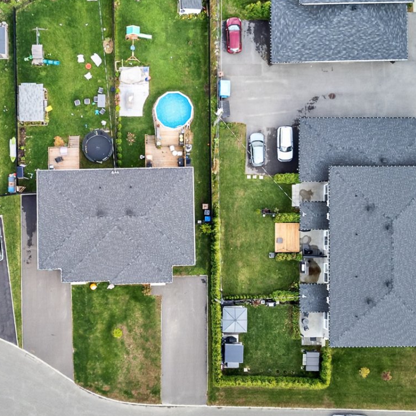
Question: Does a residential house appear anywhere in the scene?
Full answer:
Yes, you can see a residential house in this photo.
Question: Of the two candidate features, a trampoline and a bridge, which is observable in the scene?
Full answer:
Of the two, only a trampoline appears.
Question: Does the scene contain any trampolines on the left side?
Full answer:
Yes, a trampoline is visible on the left side.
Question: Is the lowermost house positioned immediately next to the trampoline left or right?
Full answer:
The lowermost house positioned immediately next to the trampoline sits on the left side.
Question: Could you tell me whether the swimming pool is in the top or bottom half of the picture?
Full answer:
The swimming pool is in the top half of the image.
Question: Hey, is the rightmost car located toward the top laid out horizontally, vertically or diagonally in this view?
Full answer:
The rightmost car located toward the top runs vertically in the image.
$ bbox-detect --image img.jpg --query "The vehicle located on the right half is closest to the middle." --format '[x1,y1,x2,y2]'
[249,131,267,167]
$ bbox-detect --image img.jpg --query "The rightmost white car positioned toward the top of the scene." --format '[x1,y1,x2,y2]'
[275,124,296,163]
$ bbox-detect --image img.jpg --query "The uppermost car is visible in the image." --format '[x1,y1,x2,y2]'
[224,17,242,54]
